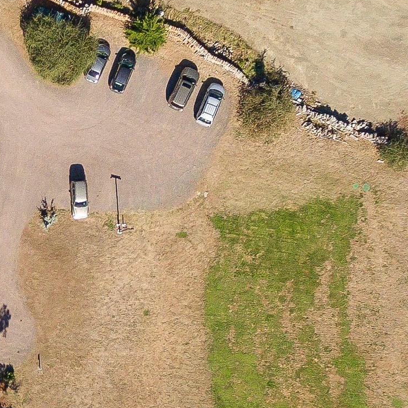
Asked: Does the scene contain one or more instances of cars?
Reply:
Yes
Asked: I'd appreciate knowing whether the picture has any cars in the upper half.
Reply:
Yes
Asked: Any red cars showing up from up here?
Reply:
No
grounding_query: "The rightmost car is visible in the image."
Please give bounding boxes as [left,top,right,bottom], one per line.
[195,80,225,129]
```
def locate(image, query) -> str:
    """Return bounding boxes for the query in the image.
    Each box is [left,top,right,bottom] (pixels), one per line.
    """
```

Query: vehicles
[167,63,197,112]
[32,0,74,21]
[84,40,112,84]
[195,80,225,129]
[110,47,137,95]
[67,178,90,222]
